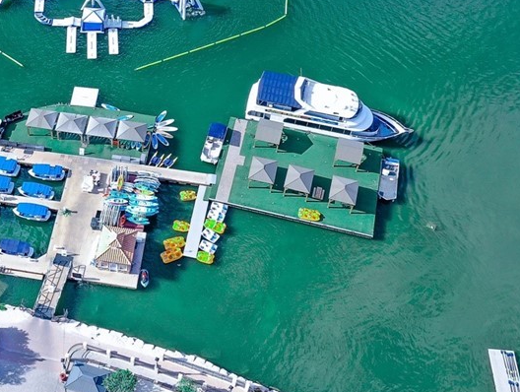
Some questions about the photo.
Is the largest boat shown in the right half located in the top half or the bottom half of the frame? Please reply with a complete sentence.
The largest boat shown in the right half sits in the top half of the picture.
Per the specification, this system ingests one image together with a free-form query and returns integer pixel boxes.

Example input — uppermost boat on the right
[244,68,416,149]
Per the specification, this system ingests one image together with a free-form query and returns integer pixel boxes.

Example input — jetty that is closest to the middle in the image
[183,186,209,259]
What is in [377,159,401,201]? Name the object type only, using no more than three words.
boat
